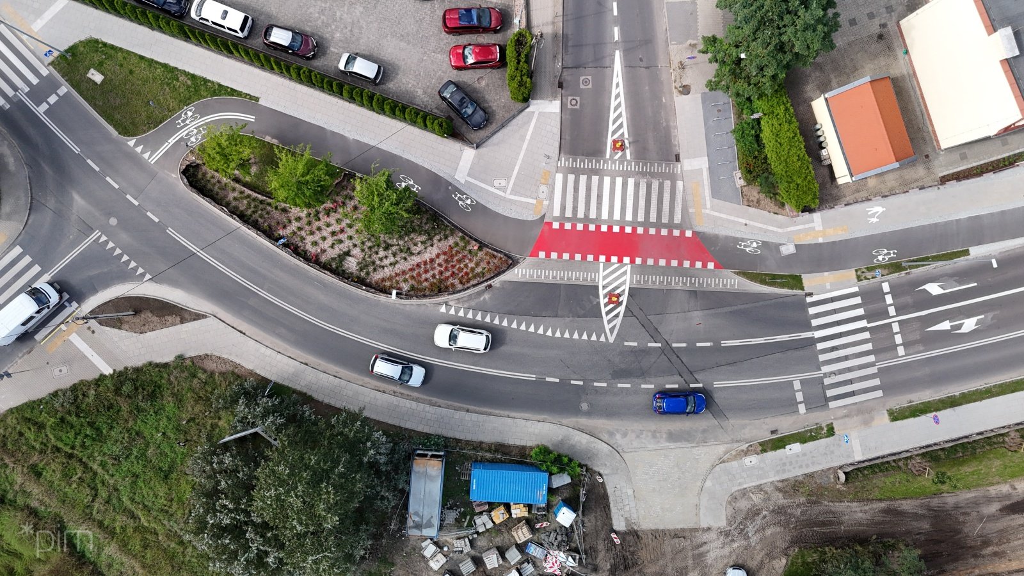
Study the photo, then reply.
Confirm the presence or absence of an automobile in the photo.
Yes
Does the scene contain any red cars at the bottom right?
No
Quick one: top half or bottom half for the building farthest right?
top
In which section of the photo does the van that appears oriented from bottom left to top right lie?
left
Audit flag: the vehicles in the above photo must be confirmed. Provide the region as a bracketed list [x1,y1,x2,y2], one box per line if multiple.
[188,0,255,41]
[367,353,426,387]
[651,389,706,418]
[448,40,504,72]
[127,0,192,23]
[442,4,502,36]
[337,51,386,86]
[436,76,490,133]
[0,284,66,350]
[259,22,319,62]
[433,322,493,353]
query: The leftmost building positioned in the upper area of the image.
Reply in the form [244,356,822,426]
[812,71,921,184]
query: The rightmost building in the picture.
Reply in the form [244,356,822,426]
[899,0,1024,150]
